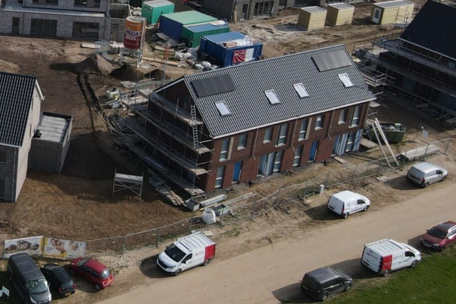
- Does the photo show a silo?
Yes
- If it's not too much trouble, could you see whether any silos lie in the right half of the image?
No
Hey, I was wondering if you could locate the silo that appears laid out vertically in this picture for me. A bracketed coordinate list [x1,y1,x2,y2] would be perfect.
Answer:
[122,11,151,67]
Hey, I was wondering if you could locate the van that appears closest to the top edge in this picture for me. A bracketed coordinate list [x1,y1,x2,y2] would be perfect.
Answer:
[406,158,451,188]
